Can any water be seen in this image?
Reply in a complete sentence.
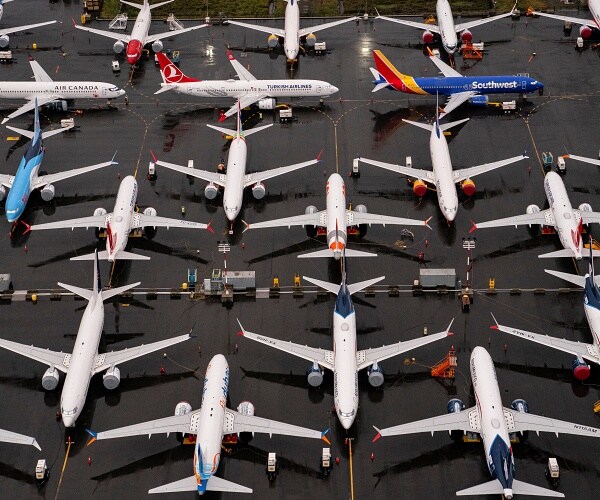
No, the scene doesn't show any water.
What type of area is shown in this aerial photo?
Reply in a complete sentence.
The picture captures an airport.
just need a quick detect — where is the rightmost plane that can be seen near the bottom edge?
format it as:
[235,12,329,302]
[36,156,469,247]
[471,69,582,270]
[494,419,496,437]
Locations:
[374,344,600,496]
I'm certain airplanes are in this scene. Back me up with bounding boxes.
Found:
[241,172,433,258]
[222,0,361,64]
[0,53,125,124]
[491,234,600,380]
[0,0,62,47]
[72,0,212,69]
[471,172,600,260]
[0,96,118,225]
[369,48,544,120]
[85,352,330,494]
[374,344,600,496]
[561,146,600,168]
[150,95,324,223]
[22,174,213,261]
[154,50,337,121]
[0,247,197,428]
[354,90,529,222]
[376,0,514,58]
[236,242,454,429]
[527,0,600,38]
